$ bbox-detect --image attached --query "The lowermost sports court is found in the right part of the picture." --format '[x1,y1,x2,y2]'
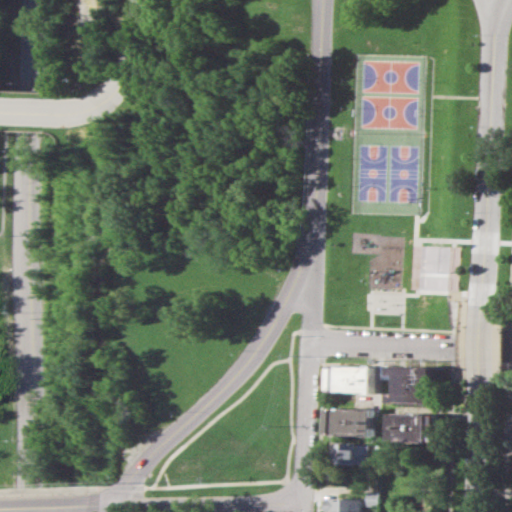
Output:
[412,246,462,292]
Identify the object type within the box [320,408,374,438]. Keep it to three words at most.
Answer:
building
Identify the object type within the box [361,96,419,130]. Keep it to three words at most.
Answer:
sports court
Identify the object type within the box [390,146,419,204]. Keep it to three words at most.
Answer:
basketball court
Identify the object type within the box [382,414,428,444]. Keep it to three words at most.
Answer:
building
